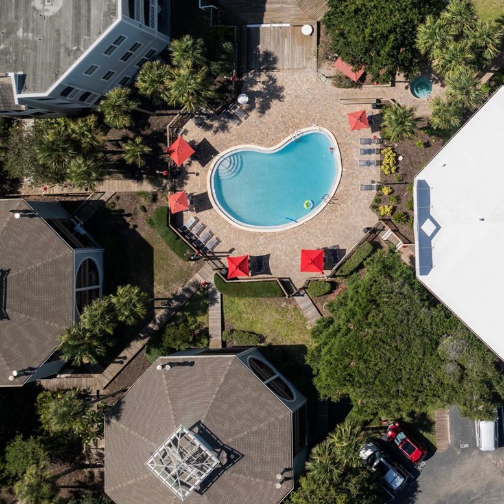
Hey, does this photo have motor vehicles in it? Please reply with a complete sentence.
Yes, this view includes a motor vehicle.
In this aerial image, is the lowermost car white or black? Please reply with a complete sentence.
In this view, the lowermost car is black.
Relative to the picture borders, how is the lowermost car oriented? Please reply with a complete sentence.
Seen from above, the lowermost car lies on a diagonal.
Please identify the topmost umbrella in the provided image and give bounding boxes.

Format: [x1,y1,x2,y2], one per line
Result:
[333,56,366,84]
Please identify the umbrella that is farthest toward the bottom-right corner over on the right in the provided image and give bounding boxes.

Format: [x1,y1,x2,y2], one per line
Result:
[301,250,324,273]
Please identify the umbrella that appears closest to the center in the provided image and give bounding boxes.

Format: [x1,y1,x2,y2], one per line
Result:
[227,254,250,277]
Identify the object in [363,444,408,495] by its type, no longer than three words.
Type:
car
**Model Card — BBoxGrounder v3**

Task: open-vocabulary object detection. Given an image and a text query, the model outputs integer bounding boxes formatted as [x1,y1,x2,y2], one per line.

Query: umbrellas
[301,250,324,273]
[169,138,195,164]
[227,254,250,277]
[348,108,369,131]
[333,56,366,84]
[166,190,190,213]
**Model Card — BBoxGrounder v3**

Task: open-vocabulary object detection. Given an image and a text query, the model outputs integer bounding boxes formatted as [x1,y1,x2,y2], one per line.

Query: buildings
[0,0,169,107]
[104,343,319,504]
[410,84,504,359]
[0,190,112,387]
